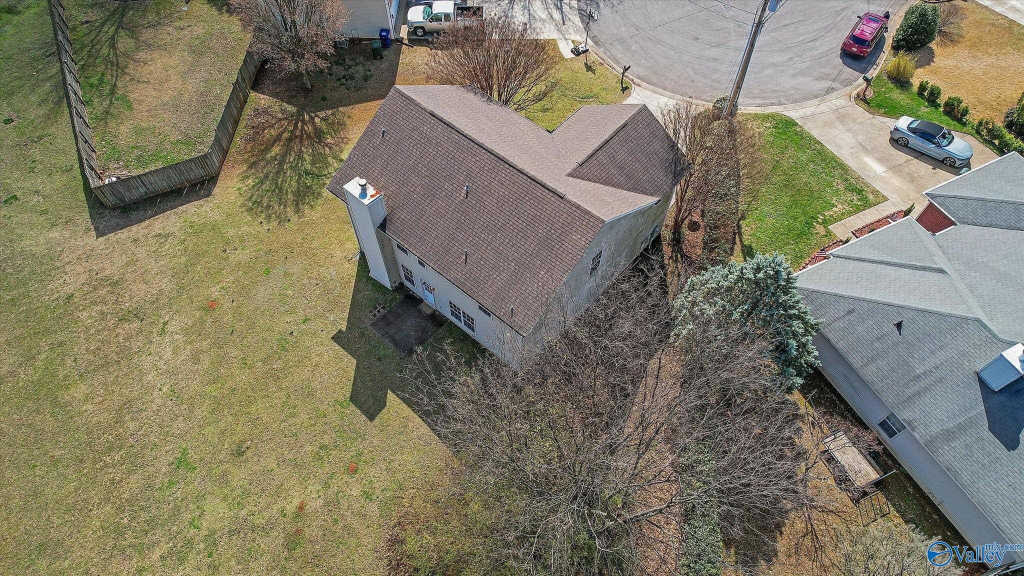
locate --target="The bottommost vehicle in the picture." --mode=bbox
[893,112,976,164]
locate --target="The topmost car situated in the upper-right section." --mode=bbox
[844,13,892,59]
